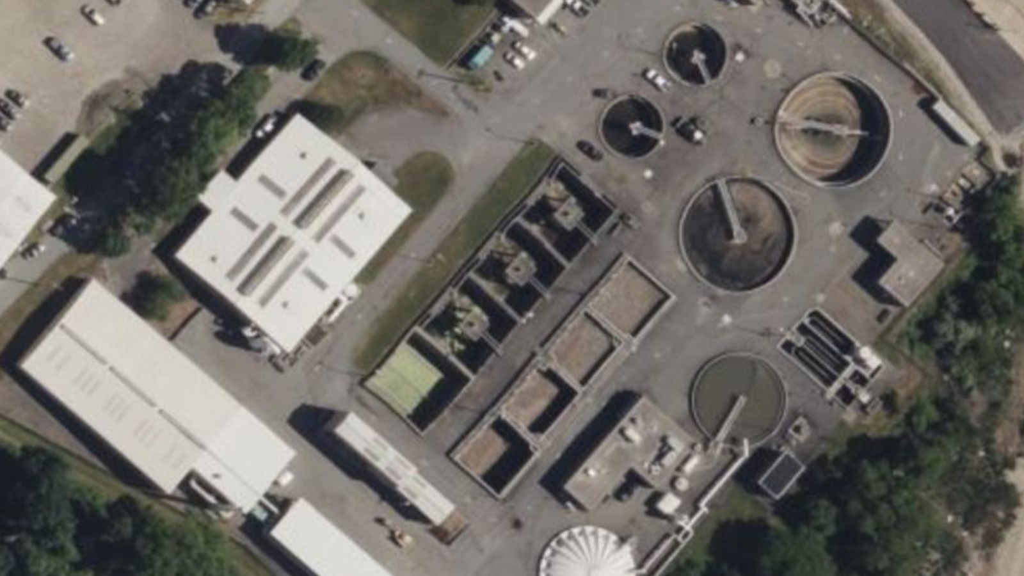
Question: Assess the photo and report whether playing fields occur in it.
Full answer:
No, the picture doesn't show any playing field.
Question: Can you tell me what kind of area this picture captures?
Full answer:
This image shows an industrial area.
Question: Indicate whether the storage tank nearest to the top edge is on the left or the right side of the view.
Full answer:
The storage tank nearest to the top edge appears in the right half of the scene.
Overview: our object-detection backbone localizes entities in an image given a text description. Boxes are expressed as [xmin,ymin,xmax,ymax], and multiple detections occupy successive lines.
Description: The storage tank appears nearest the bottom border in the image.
[540,524,648,576]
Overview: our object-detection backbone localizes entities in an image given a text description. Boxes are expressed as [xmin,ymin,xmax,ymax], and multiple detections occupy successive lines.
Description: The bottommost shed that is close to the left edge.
[18,280,295,513]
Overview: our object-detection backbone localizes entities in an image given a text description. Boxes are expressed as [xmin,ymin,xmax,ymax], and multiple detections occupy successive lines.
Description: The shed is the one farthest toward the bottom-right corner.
[751,451,805,499]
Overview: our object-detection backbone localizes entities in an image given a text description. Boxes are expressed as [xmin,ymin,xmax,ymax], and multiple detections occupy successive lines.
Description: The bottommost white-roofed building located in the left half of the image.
[266,497,392,576]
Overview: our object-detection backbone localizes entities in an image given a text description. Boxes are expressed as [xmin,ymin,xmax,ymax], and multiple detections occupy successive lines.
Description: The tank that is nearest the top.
[664,22,726,85]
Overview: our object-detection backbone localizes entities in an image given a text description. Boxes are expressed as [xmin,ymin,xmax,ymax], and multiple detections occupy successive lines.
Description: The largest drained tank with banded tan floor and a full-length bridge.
[774,72,890,188]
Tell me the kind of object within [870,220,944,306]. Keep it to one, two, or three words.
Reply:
building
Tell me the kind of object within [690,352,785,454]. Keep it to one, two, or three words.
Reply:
storage tank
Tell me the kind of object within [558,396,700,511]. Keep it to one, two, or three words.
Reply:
building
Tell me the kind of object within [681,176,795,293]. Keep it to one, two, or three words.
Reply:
storage tank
